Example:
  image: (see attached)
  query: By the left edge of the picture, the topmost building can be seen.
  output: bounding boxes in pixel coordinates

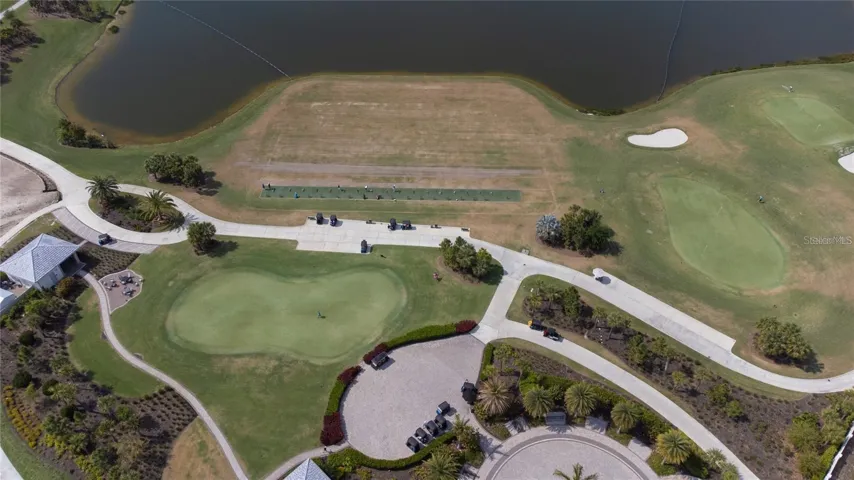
[0,231,83,293]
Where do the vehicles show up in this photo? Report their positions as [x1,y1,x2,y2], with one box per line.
[315,210,324,223]
[414,428,430,447]
[544,324,560,341]
[435,400,453,416]
[329,213,337,227]
[359,240,368,254]
[463,380,477,408]
[528,316,544,332]
[374,352,389,369]
[389,217,397,230]
[424,420,440,440]
[434,413,449,432]
[94,233,111,246]
[405,436,421,456]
